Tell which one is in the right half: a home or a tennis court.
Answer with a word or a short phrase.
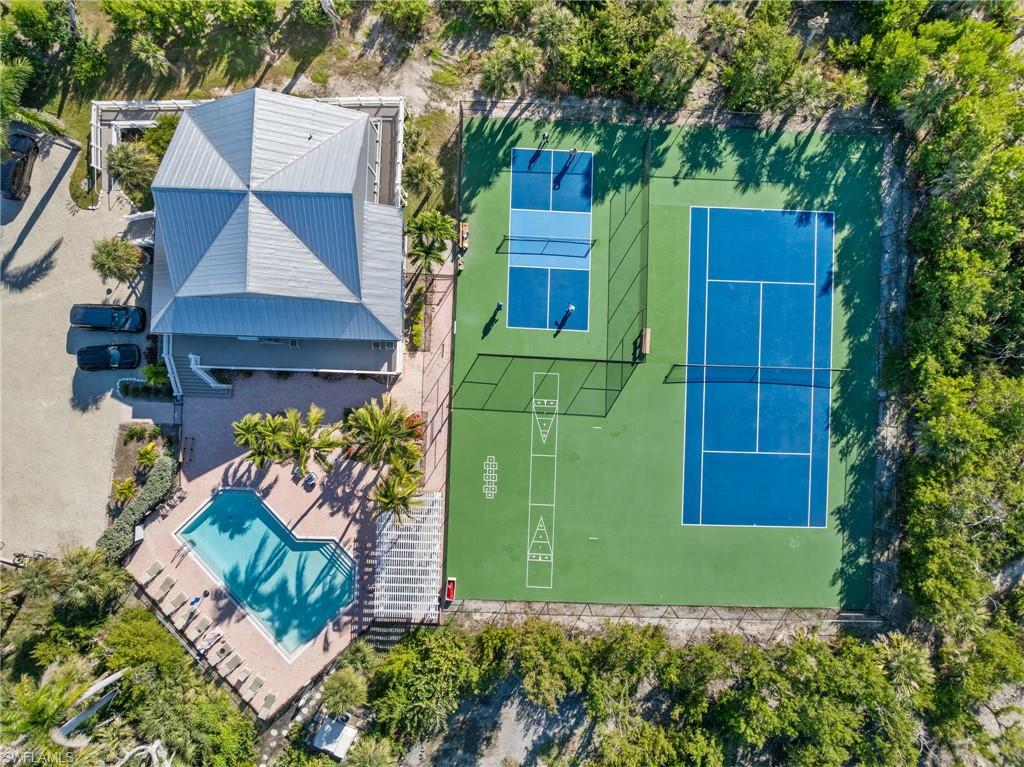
tennis court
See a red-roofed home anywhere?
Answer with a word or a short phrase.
No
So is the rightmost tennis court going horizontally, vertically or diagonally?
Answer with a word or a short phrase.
vertically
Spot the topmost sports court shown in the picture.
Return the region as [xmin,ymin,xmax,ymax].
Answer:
[507,148,593,331]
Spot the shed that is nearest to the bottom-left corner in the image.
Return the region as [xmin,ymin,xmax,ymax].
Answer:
[314,707,362,759]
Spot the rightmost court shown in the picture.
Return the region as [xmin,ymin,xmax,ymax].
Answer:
[682,206,834,528]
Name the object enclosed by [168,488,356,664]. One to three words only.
swimming pool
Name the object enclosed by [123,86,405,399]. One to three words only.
house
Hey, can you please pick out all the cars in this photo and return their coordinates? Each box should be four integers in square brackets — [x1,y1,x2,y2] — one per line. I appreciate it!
[0,133,47,203]
[77,341,146,374]
[68,301,150,336]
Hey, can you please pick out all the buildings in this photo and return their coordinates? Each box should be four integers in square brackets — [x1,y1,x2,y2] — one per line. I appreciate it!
[123,86,405,399]
[314,707,362,759]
